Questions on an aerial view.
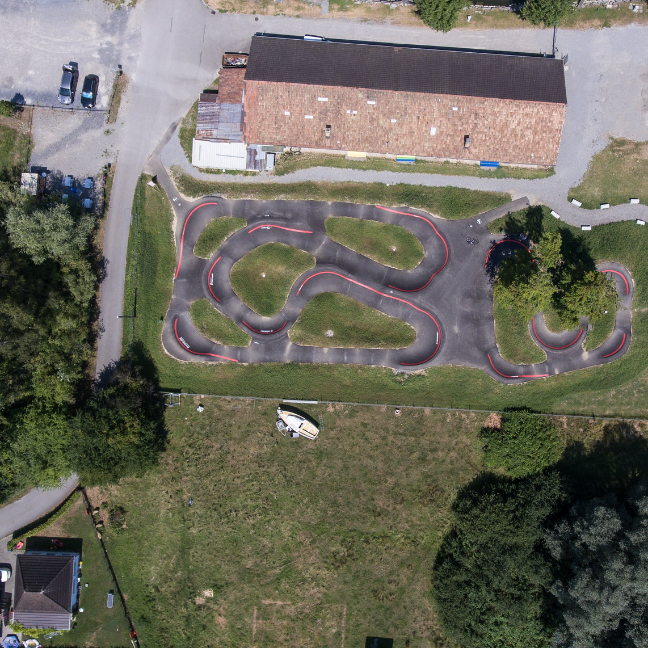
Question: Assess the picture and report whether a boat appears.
Yes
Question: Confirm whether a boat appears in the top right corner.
No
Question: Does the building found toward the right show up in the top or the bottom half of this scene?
top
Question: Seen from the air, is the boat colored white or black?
white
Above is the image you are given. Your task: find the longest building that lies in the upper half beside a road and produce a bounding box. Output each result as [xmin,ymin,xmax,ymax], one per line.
[242,35,571,168]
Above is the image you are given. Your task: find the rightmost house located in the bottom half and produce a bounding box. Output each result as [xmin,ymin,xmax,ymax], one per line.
[12,550,79,633]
